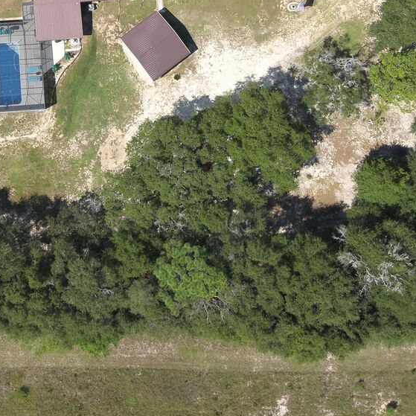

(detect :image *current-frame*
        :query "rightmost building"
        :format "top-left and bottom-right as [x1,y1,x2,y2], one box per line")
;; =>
[120,10,192,84]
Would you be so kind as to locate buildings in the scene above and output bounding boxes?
[33,0,102,41]
[120,10,192,84]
